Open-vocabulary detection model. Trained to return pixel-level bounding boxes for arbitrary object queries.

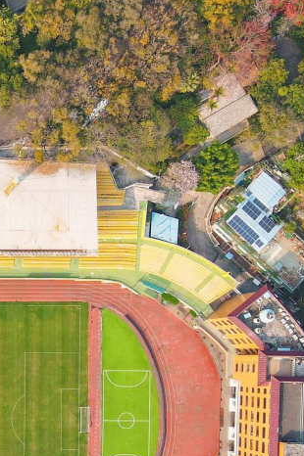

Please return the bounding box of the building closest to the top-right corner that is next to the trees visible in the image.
[193,73,256,139]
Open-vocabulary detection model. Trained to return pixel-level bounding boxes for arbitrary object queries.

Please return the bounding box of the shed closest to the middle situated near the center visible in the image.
[148,211,179,243]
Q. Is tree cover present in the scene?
Yes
